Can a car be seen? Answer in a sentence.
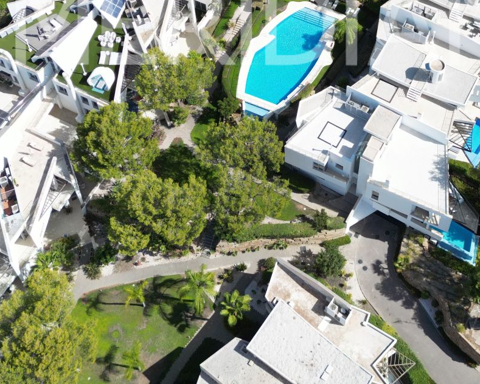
No, I can see no car in this picture.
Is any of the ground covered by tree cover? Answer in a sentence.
Yes, the picture does contain tree cover.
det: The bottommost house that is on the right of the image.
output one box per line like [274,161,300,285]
[196,260,416,384]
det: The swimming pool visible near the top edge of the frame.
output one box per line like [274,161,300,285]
[243,6,340,107]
